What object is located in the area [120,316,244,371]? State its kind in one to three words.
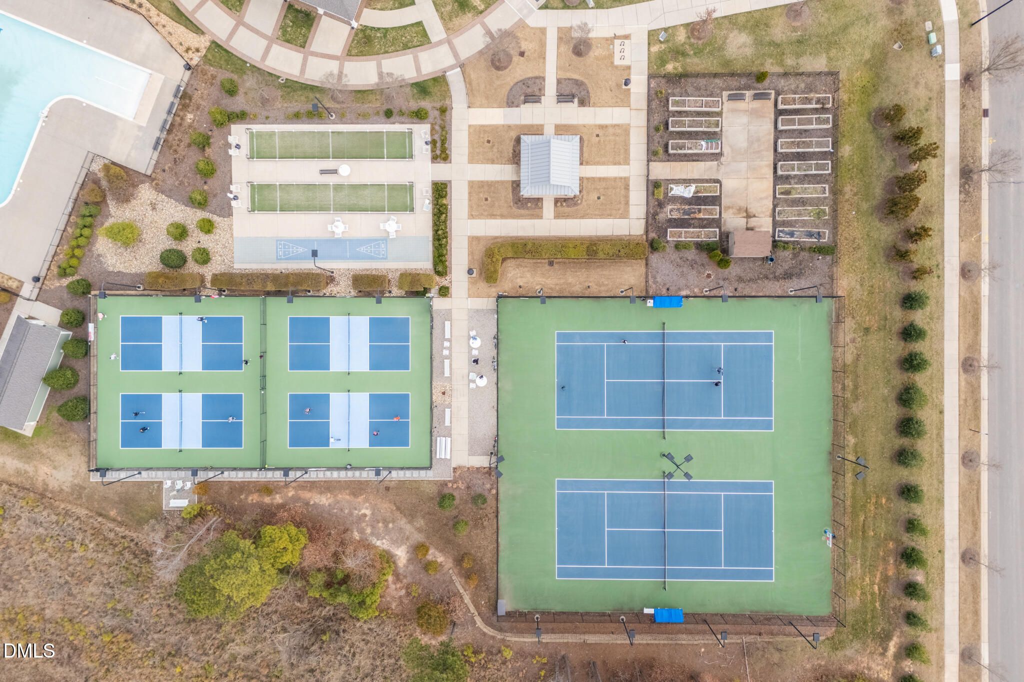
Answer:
sports court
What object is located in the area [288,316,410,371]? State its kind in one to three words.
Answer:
sports court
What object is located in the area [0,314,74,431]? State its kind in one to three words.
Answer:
building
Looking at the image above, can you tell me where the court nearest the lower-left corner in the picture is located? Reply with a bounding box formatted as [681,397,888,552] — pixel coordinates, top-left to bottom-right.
[120,394,244,449]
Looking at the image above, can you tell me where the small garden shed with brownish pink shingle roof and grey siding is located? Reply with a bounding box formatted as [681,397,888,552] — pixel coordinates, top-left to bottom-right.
[728,231,773,258]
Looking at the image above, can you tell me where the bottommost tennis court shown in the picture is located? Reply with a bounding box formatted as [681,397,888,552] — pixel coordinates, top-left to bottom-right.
[556,480,774,581]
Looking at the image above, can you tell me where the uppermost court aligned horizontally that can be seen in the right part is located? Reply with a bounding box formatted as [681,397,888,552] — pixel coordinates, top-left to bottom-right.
[556,331,774,431]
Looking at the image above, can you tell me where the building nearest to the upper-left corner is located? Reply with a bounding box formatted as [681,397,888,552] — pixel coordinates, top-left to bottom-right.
[285,0,362,31]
